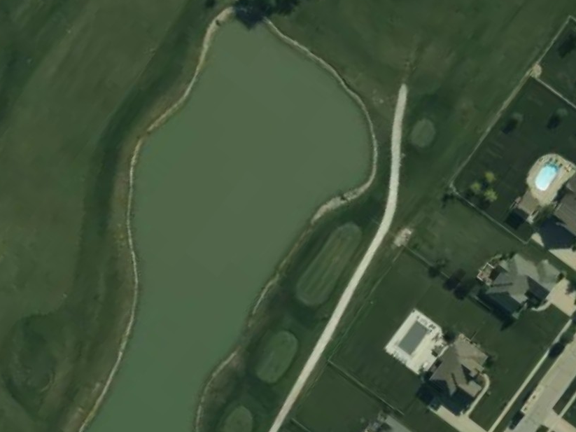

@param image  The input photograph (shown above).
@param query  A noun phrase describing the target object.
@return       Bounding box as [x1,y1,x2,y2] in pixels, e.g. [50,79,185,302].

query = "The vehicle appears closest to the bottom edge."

[510,412,525,430]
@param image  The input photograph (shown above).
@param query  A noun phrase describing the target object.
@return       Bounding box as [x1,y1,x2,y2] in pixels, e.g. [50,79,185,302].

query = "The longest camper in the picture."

[520,385,545,416]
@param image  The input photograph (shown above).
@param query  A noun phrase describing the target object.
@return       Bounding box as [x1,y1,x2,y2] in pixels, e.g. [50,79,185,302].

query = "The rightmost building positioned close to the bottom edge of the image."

[425,335,490,415]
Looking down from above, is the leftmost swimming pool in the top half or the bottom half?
bottom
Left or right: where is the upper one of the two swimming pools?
right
